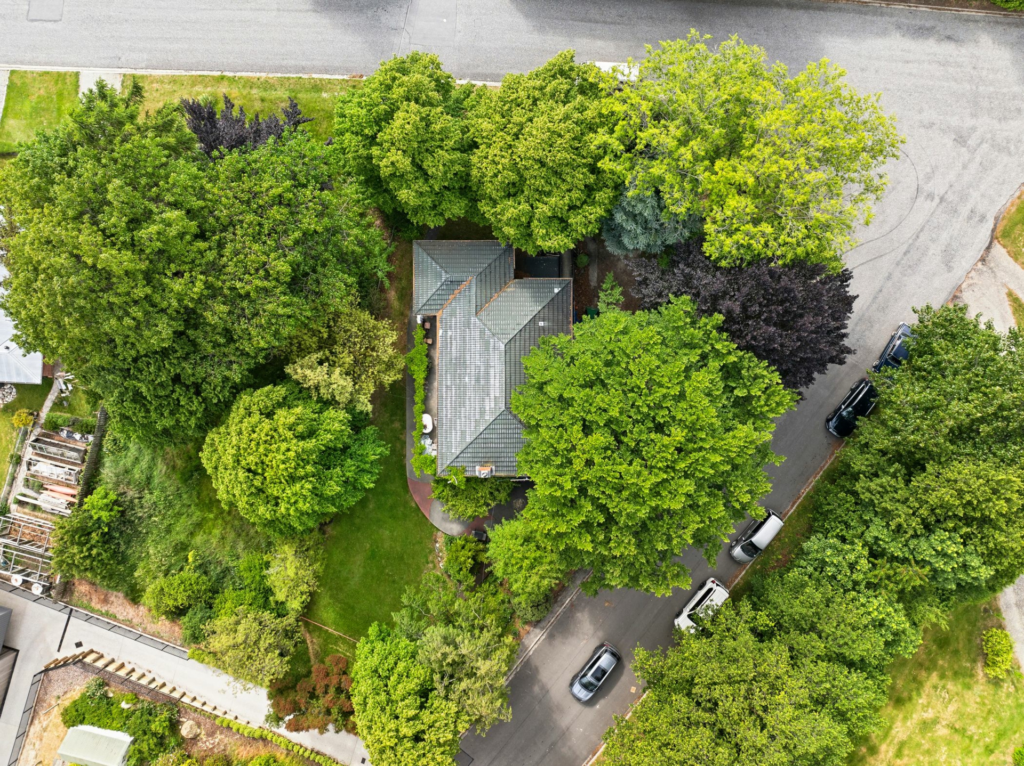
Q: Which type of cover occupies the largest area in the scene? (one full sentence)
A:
The bulk of the photo consists of trees.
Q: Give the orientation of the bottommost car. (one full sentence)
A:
The bottommost car has been laid out diagonally relative to the frame.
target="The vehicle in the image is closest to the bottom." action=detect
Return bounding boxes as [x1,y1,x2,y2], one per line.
[570,640,622,702]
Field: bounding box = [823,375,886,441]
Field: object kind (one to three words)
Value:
car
